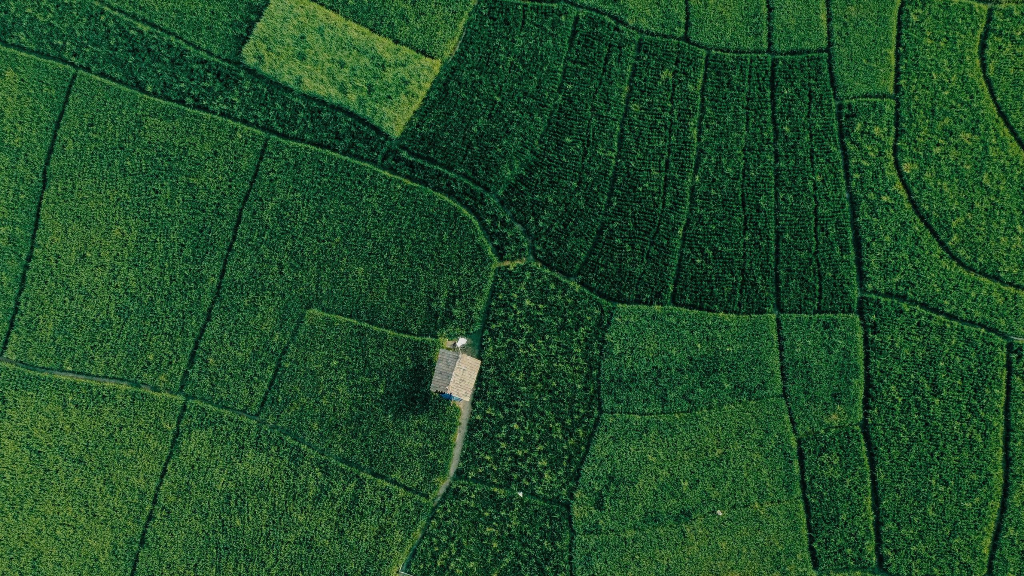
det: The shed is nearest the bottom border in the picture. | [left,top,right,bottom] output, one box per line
[430,348,482,401]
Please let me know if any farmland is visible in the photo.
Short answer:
Yes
